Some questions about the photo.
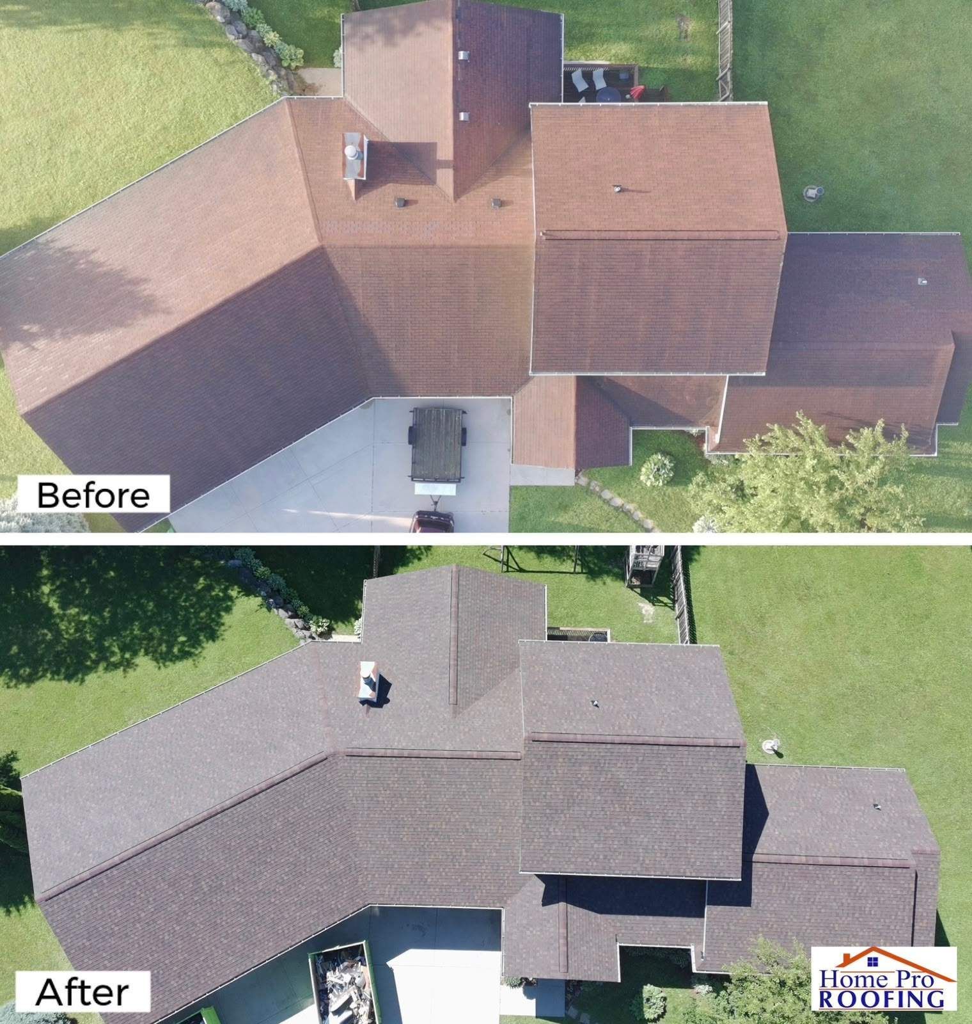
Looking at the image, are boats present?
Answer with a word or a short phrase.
No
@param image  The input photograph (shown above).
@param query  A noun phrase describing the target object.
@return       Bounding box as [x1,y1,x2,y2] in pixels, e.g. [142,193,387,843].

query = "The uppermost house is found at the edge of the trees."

[0,0,972,538]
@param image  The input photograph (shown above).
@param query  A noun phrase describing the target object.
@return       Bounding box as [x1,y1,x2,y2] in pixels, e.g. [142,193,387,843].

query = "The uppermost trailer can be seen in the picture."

[405,408,467,510]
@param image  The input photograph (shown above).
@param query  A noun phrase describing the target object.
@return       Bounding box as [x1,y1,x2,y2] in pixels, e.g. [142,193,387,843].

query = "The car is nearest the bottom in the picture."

[410,510,454,533]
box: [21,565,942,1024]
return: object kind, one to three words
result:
house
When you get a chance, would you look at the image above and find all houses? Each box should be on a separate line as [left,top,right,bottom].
[0,0,972,538]
[21,565,942,1024]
